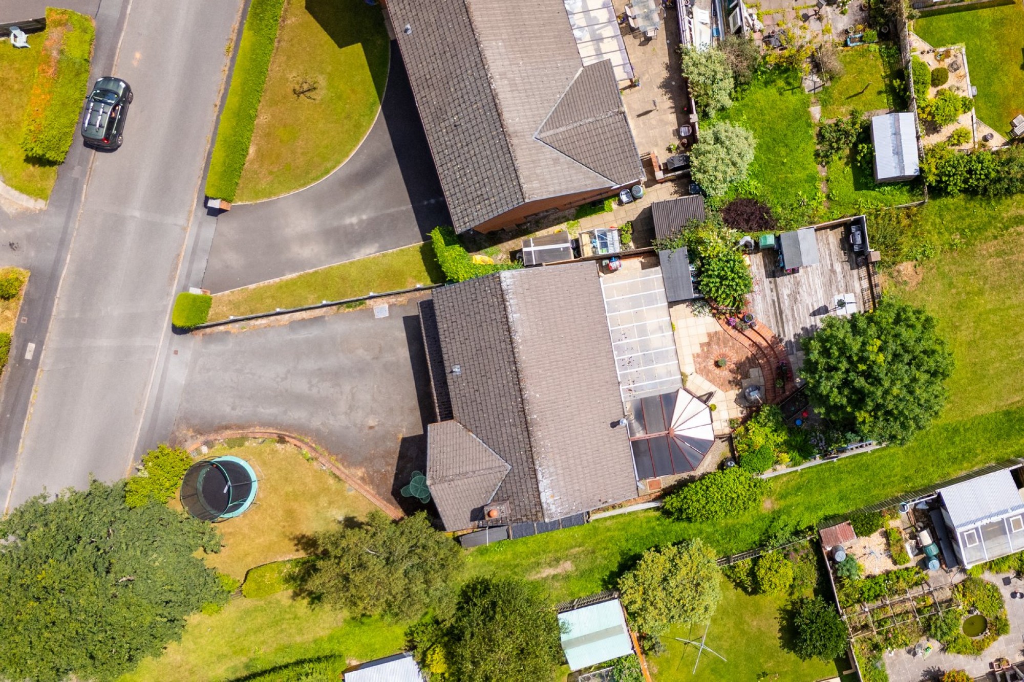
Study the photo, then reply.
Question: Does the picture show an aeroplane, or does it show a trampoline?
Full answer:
Visible in the photo is a trampoline.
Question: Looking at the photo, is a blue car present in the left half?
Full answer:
No, no blue car can be made out in the left half.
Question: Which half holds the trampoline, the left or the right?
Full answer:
It is on the left.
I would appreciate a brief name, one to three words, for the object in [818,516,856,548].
shed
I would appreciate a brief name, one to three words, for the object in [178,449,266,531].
trampoline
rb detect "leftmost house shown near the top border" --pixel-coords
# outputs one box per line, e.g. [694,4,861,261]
[356,0,650,239]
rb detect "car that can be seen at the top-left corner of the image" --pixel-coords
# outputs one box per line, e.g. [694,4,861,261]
[83,78,134,153]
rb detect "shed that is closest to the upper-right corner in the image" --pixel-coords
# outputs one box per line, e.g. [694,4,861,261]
[866,112,919,187]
